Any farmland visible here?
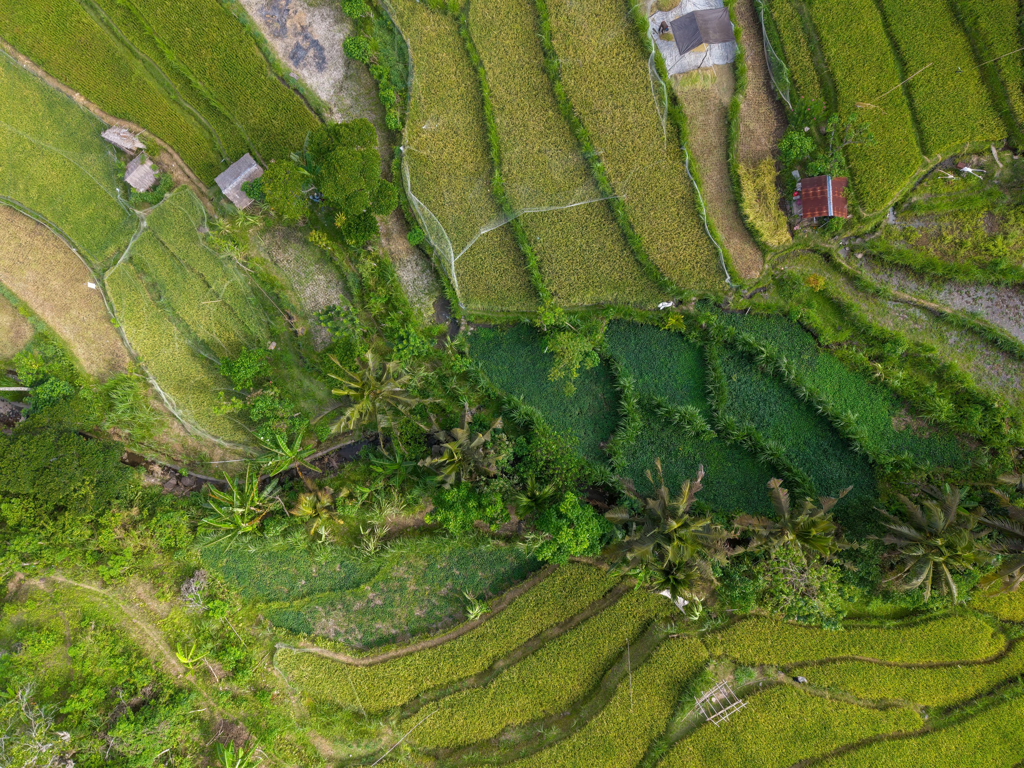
Yes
